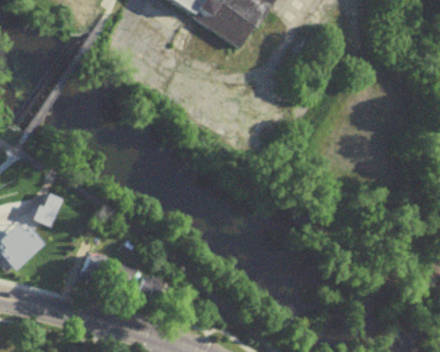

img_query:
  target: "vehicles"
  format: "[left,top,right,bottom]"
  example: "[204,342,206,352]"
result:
[0,292,10,298]
[123,241,134,250]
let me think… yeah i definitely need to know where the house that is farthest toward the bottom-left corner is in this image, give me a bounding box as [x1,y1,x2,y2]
[78,252,110,278]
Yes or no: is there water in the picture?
Yes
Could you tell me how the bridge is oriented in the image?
at an angle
